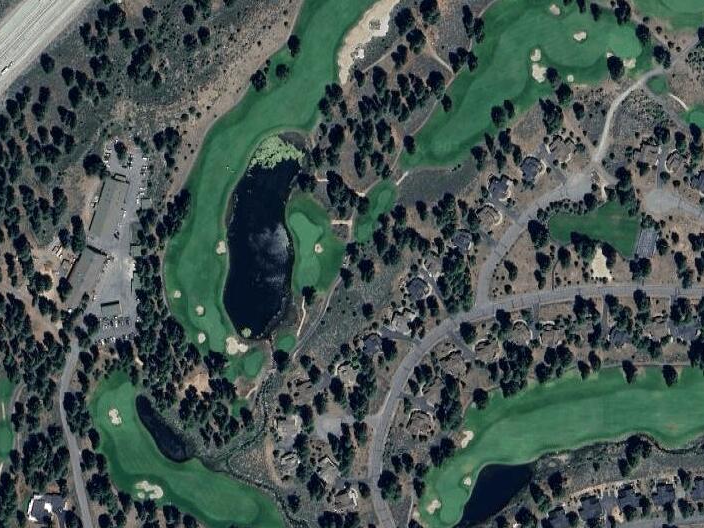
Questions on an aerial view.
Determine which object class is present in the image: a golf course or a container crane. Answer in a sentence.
Visible in the photo is a golf course.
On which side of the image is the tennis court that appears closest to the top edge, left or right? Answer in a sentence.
The tennis court that appears closest to the top edge sits on the right side.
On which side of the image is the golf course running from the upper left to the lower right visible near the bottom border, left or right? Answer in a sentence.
The golf course running from the upper left to the lower right visible near the bottom border is on the left side of the image.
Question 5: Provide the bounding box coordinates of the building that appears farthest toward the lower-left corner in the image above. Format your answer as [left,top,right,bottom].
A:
[28,497,65,518]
